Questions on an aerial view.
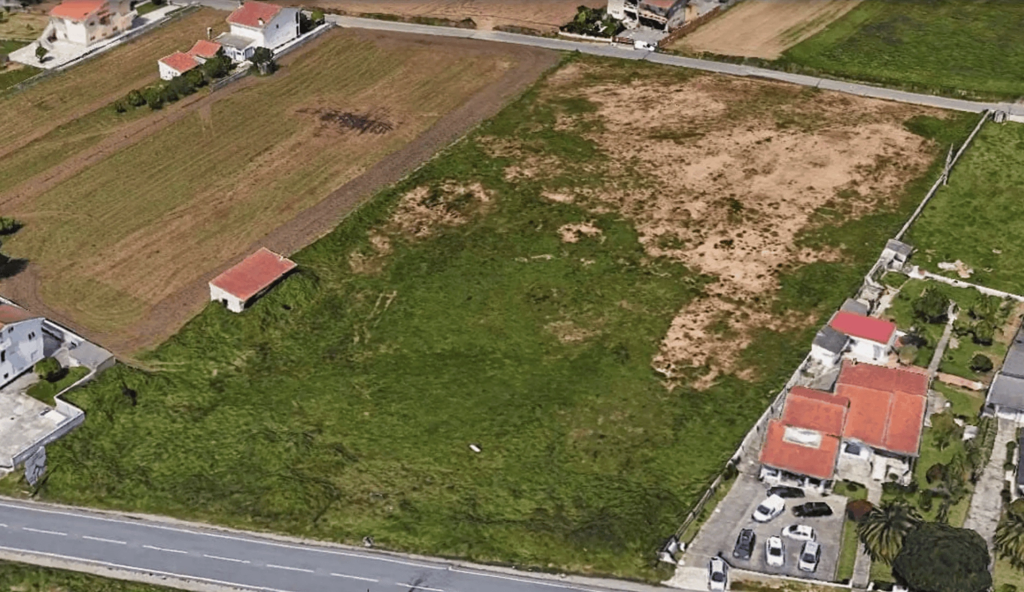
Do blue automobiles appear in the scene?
No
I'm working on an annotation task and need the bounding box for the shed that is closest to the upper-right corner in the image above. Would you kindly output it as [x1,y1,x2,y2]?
[880,242,914,281]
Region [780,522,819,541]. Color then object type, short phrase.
white car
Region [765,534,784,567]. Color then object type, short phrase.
white car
